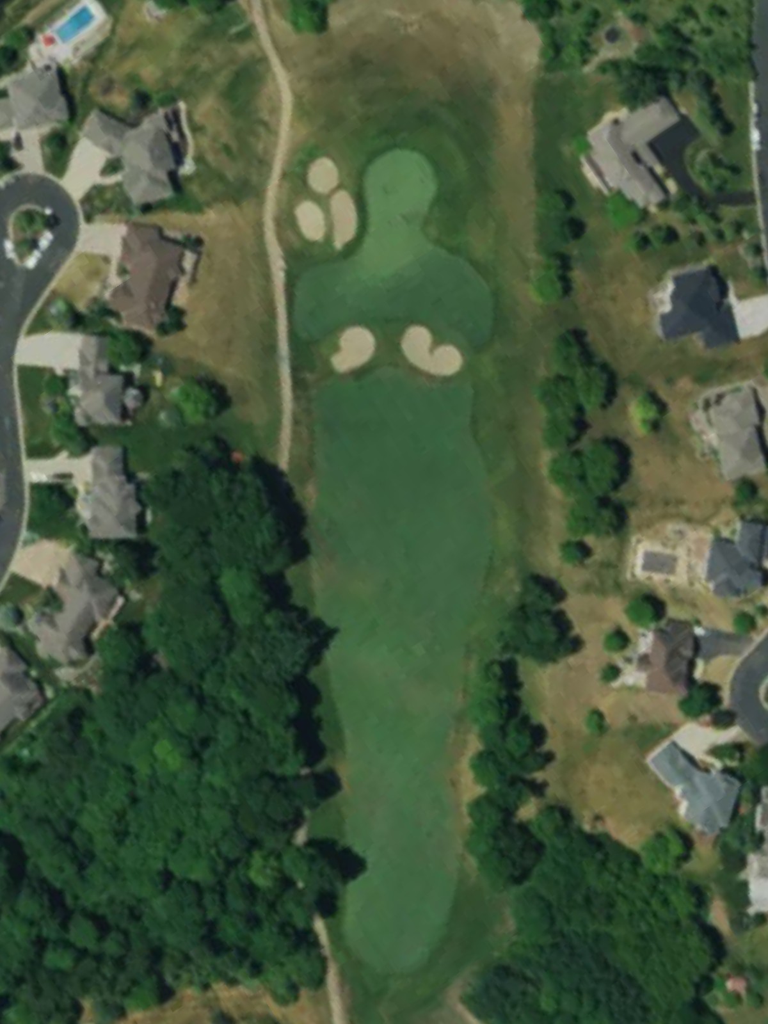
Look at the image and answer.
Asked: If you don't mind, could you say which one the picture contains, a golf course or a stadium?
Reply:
golf course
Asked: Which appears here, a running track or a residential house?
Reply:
residential house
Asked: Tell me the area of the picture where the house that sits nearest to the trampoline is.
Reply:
top right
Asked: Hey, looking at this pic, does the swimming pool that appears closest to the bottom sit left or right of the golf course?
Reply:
to the right of it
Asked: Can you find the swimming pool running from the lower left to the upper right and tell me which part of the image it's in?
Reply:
top left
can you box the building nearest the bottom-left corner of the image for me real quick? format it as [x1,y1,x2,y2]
[0,638,44,725]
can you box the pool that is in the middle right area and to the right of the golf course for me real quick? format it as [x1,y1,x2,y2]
[639,548,681,577]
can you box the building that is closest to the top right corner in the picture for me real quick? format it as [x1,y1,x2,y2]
[580,94,680,213]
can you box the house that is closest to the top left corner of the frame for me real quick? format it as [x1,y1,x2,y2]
[0,66,67,131]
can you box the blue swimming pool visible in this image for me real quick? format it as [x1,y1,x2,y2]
[53,2,98,46]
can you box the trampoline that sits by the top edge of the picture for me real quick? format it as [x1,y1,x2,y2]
[604,27,620,43]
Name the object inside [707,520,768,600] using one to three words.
house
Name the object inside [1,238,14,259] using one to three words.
vehicle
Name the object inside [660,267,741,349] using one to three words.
house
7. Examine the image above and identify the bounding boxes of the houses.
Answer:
[74,334,121,426]
[0,638,44,725]
[652,742,742,835]
[26,548,120,668]
[88,446,141,538]
[707,520,768,600]
[709,388,768,481]
[580,94,680,213]
[106,223,185,330]
[80,108,180,206]
[660,267,741,349]
[638,619,699,695]
[0,66,67,131]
